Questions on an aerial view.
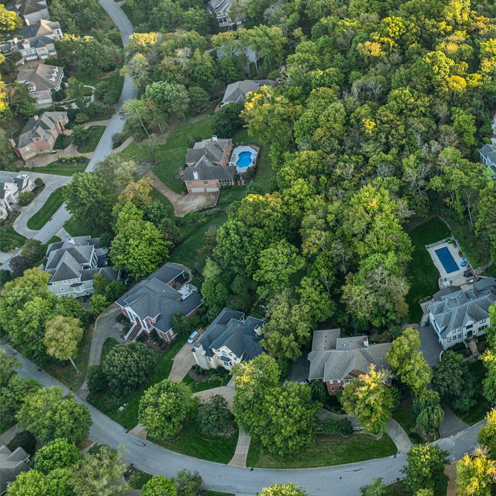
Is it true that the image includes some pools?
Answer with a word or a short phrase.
Yes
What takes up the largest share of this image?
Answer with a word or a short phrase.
trees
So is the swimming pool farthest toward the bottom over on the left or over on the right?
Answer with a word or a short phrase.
right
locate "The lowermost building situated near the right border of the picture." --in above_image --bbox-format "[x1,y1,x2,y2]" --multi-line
[425,276,496,349]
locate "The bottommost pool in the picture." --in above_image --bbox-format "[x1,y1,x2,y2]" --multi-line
[433,245,462,275]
